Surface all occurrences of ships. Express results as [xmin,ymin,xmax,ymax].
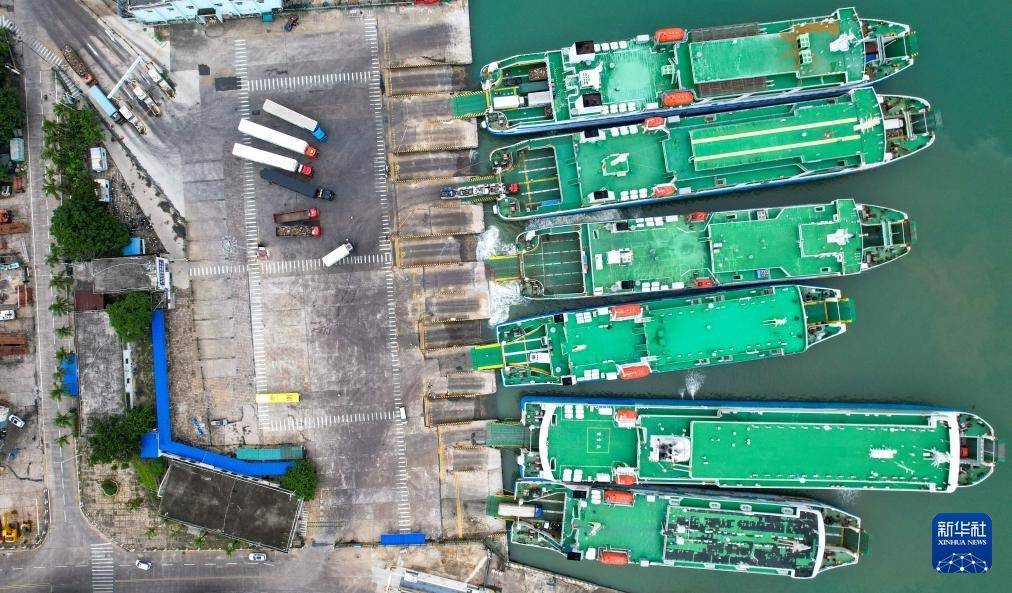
[487,199,914,299]
[487,476,869,581]
[486,395,1005,494]
[451,8,919,137]
[457,87,938,222]
[470,285,856,386]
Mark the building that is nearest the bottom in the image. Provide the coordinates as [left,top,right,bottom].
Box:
[399,562,468,593]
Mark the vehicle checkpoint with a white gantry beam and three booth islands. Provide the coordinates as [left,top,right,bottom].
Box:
[108,57,174,133]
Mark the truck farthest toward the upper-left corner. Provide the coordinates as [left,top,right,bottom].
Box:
[61,44,106,90]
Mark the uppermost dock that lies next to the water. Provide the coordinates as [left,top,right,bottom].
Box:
[381,0,473,67]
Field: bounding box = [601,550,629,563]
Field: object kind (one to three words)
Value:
boat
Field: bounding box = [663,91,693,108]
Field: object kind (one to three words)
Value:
boat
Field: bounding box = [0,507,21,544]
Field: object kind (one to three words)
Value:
work vehicle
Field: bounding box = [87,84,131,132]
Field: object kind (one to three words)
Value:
truck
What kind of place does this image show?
port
